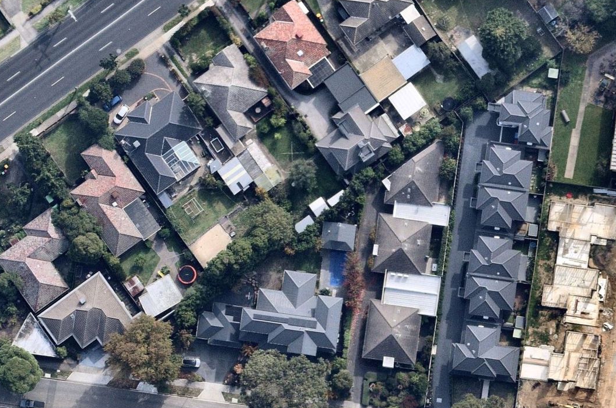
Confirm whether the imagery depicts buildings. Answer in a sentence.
Yes, the image includes a building.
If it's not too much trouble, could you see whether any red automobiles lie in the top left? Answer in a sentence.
No, there is no red automobile in the top left.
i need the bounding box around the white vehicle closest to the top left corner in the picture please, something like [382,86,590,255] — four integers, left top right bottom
[113,103,130,126]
